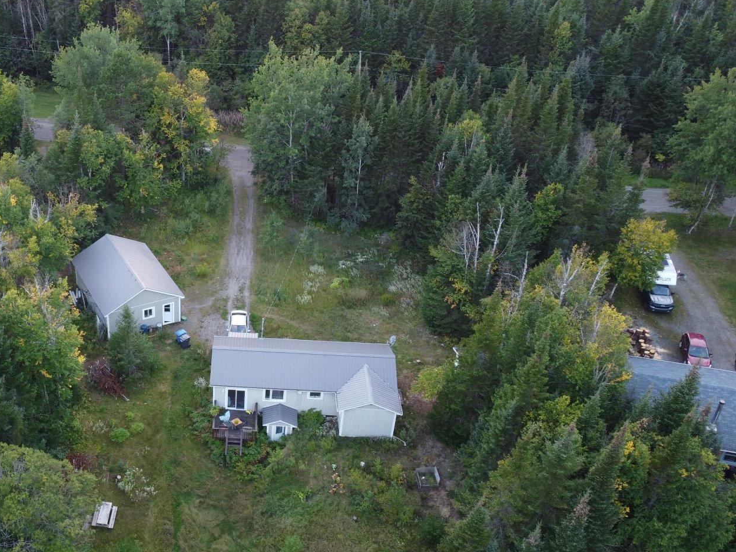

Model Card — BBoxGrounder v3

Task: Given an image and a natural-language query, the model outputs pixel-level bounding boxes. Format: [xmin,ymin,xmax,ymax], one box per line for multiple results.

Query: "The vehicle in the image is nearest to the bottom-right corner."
[671,329,717,368]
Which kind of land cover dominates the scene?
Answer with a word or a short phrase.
trees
